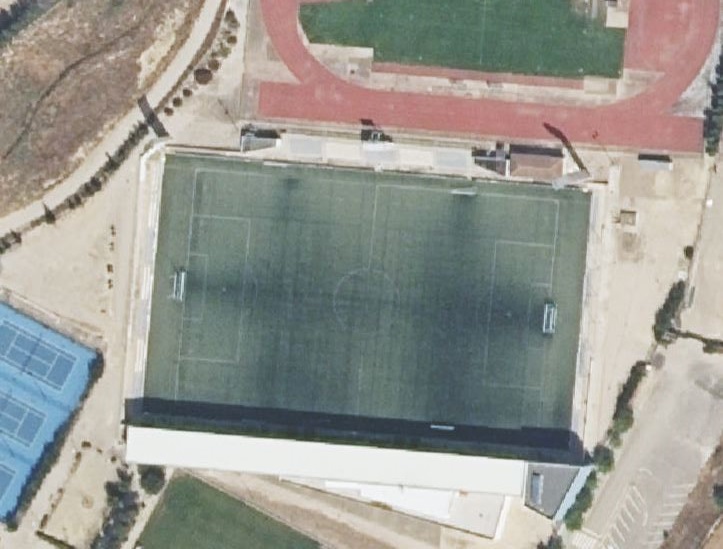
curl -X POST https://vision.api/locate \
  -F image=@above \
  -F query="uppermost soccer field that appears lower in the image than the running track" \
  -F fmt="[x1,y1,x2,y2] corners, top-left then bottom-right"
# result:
[143,154,590,451]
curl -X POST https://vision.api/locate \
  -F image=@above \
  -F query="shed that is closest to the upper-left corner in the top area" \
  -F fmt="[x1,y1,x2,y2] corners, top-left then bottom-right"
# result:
[241,136,280,154]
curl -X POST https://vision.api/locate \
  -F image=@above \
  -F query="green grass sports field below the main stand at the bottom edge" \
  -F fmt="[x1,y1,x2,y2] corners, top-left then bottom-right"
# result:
[139,472,329,549]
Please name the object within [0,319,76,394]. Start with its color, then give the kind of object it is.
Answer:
blue tennis court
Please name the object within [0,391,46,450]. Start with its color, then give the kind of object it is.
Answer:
blue tennis court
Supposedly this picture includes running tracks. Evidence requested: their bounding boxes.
[258,0,720,155]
